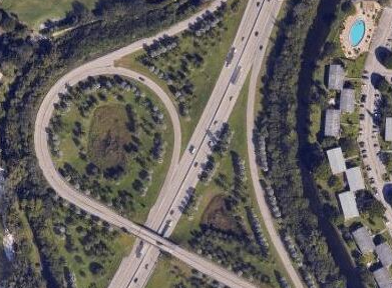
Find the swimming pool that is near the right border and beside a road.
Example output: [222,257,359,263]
[340,0,381,60]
